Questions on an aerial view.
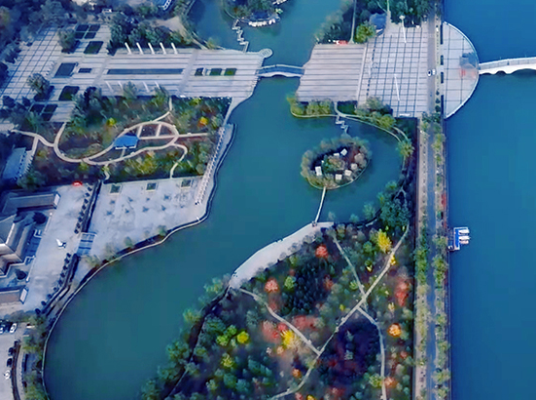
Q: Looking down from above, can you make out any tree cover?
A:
Yes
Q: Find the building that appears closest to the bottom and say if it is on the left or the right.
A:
left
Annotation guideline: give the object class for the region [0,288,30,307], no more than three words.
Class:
building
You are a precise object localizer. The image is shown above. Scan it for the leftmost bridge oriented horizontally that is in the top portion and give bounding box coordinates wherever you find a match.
[256,64,306,77]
